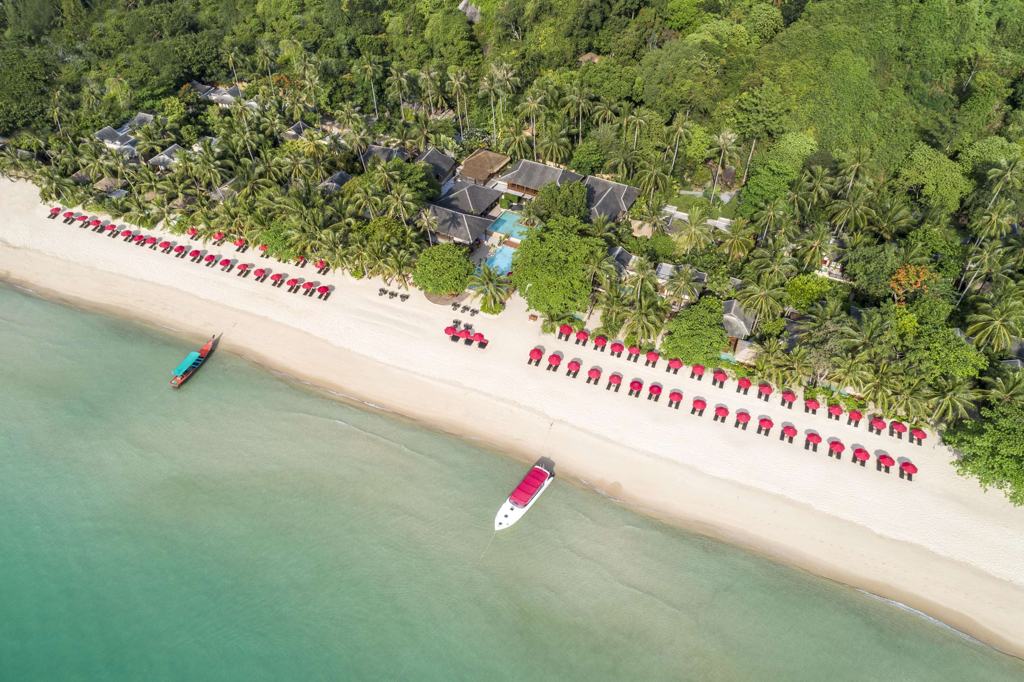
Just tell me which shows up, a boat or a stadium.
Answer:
boat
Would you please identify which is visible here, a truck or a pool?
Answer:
pool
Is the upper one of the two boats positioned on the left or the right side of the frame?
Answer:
left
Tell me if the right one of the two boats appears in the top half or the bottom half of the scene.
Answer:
bottom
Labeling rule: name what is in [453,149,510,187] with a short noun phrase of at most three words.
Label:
building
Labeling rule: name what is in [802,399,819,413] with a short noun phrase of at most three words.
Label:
umbrella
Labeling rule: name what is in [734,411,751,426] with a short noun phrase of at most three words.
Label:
umbrella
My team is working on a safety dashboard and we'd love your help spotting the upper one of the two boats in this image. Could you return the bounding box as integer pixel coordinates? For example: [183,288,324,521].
[169,332,210,390]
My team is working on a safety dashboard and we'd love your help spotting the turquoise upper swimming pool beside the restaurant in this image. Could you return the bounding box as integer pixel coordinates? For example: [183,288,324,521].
[486,210,547,245]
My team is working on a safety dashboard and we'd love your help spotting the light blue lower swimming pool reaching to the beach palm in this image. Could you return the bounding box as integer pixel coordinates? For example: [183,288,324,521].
[472,246,520,293]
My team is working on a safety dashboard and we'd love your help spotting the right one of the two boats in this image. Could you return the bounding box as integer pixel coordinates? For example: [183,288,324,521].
[494,464,557,534]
